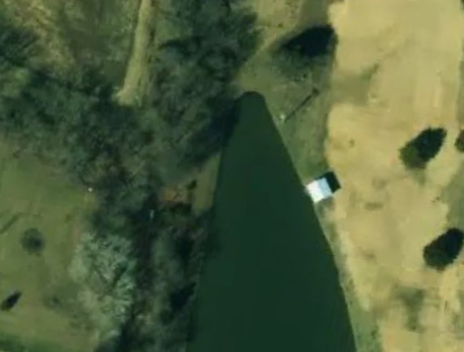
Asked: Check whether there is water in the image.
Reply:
Yes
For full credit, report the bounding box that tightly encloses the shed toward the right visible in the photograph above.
[307,178,332,202]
